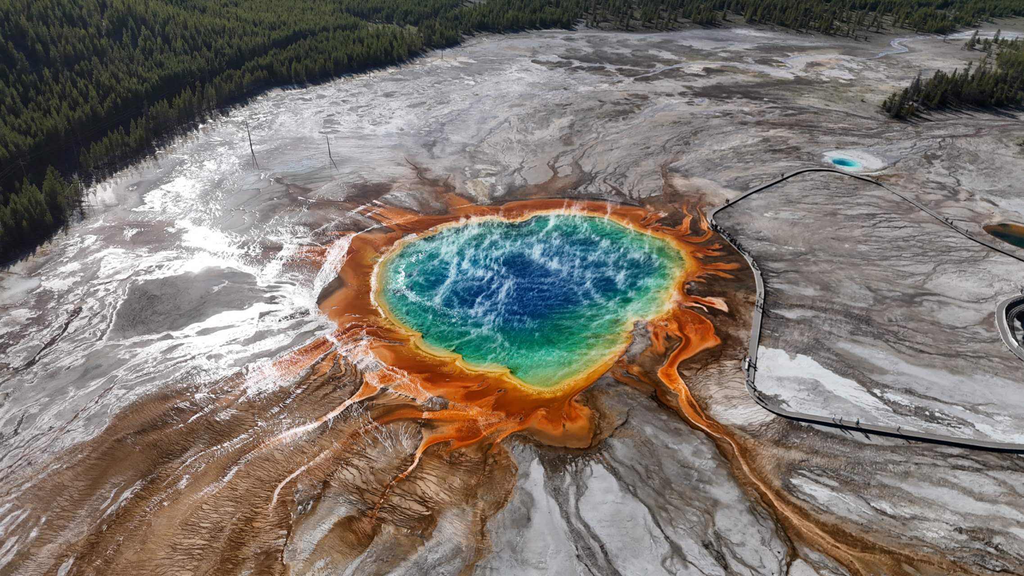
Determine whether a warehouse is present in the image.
No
